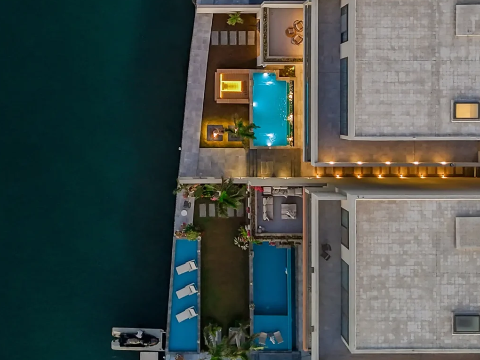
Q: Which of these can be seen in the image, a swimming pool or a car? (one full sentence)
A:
The one in the frame is a swimming pool.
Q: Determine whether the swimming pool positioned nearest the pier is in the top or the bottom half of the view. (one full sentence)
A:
The swimming pool positioned nearest the pier is in the bottom half of the image.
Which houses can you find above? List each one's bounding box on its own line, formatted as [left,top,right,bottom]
[248,179,480,360]
[258,0,480,165]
